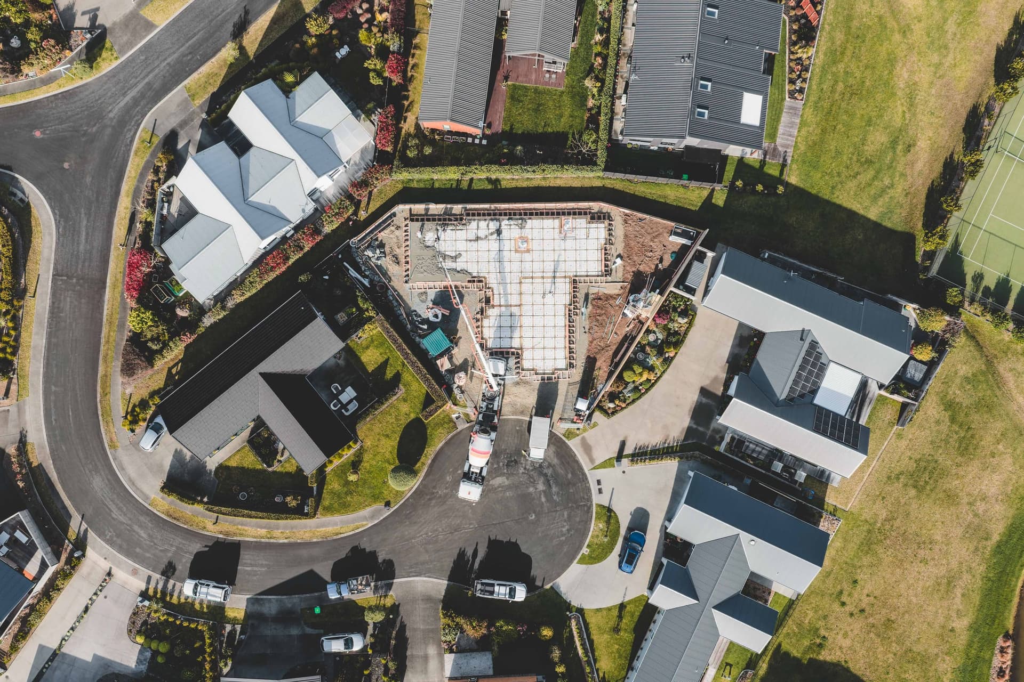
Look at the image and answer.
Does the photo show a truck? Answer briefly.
Yes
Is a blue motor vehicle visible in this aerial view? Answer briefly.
Yes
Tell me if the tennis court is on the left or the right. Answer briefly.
right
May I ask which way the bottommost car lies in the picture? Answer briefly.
from left to right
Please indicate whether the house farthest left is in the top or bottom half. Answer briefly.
bottom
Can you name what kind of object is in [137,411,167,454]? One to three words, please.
car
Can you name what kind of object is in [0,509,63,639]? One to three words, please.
house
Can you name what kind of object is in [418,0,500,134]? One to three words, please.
house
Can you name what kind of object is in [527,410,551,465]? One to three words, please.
truck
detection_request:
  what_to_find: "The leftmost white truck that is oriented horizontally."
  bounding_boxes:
[184,578,233,604]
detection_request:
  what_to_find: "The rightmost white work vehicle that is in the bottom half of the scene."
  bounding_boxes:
[572,399,588,425]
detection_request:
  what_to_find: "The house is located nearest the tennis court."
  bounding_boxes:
[700,246,910,479]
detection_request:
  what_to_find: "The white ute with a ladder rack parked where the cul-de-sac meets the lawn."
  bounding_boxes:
[473,578,526,603]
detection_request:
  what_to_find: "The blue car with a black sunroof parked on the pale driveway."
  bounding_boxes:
[620,529,646,576]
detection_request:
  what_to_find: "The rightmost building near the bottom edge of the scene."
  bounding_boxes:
[621,468,829,682]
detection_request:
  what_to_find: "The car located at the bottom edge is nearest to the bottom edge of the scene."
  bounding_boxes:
[320,631,365,654]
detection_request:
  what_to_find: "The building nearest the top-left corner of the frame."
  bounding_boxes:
[161,71,374,304]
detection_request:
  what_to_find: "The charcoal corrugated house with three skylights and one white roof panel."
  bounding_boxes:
[623,0,784,153]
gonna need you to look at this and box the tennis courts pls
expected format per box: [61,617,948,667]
[936,87,1024,316]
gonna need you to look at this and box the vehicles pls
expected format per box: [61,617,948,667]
[572,399,588,425]
[137,411,167,454]
[473,578,526,603]
[184,578,233,604]
[620,529,646,576]
[320,631,365,654]
[438,254,520,433]
[527,410,551,465]
[327,574,375,600]
[454,422,496,509]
